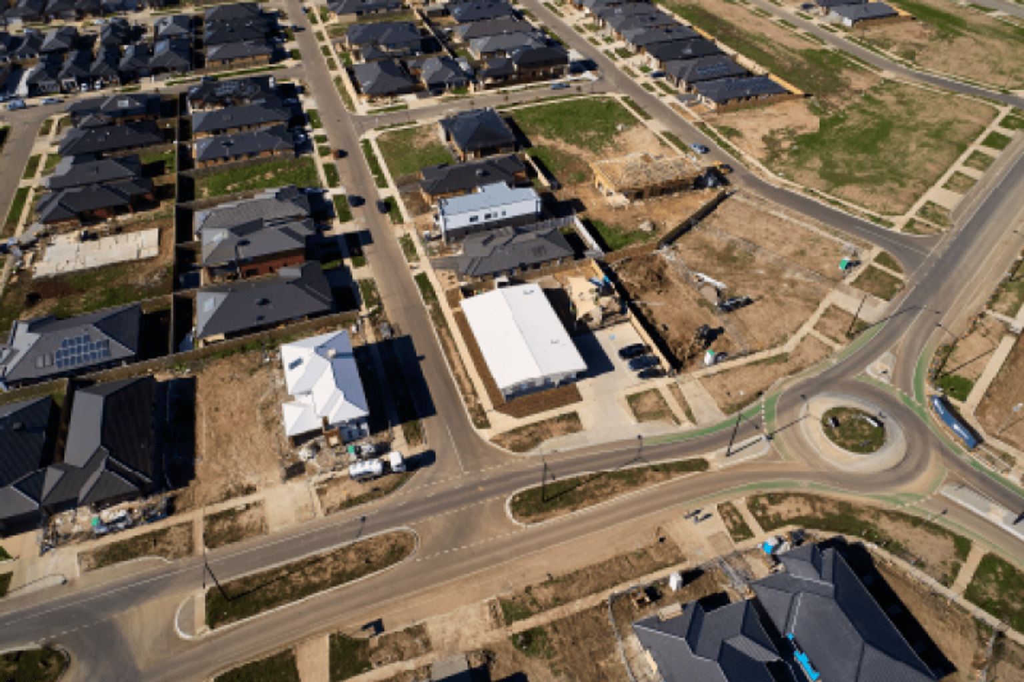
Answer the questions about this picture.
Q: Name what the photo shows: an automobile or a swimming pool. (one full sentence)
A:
Looking from above, you can make out an automobile.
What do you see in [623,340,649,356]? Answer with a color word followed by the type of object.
black car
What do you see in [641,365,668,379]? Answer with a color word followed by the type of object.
black car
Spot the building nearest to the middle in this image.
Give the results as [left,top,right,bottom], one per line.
[453,281,587,402]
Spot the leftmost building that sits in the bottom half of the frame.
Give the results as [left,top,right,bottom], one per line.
[0,395,59,531]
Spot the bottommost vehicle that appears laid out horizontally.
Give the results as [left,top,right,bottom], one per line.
[349,456,407,486]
